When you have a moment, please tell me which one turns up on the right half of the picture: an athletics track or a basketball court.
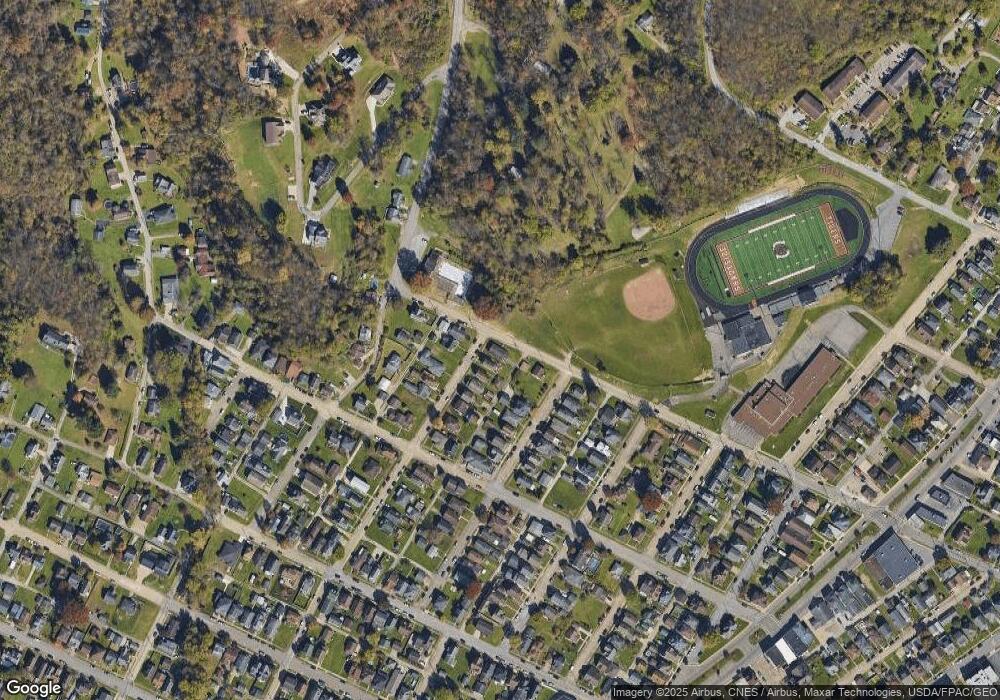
athletics track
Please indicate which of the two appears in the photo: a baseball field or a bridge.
baseball field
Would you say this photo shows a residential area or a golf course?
residential area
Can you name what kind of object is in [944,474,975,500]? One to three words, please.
building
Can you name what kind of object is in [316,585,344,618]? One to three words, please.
house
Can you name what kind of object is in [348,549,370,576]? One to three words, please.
house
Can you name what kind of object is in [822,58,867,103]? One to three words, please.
building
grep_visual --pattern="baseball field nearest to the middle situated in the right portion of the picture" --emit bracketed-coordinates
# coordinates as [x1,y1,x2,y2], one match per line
[624,267,675,321]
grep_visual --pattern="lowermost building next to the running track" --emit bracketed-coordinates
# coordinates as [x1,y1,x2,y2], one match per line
[733,349,841,438]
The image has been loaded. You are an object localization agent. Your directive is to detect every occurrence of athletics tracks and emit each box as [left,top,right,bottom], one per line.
[690,185,872,320]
